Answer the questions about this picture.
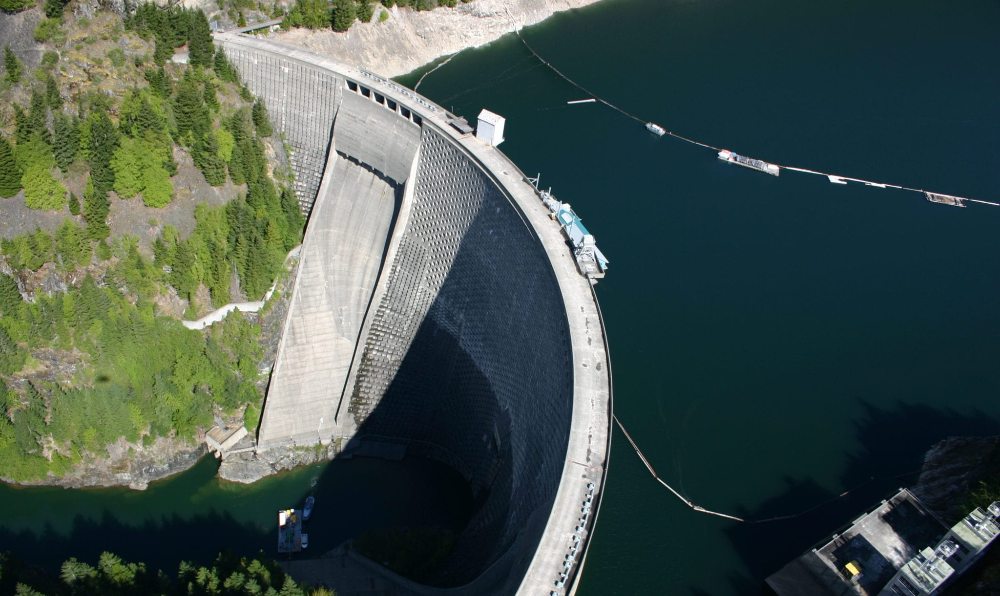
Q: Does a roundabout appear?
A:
No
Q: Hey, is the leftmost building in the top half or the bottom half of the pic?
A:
bottom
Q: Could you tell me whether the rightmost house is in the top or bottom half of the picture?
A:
bottom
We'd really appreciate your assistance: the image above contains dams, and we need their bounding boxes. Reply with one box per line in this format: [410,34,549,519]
[195,28,613,596]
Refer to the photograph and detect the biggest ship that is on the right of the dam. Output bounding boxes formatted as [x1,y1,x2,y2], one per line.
[717,146,779,176]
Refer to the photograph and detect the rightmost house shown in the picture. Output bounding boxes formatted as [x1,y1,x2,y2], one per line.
[934,505,1000,583]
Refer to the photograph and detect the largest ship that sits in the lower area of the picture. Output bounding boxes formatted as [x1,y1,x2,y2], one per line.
[278,507,302,554]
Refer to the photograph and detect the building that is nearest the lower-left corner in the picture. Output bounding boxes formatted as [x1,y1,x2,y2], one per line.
[212,407,241,457]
